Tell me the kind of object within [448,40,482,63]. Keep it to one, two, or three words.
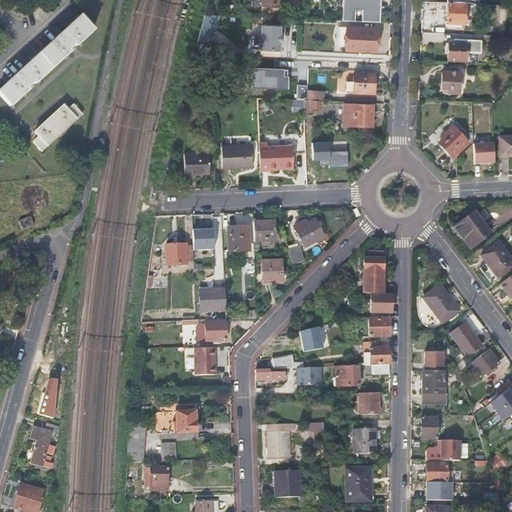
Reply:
house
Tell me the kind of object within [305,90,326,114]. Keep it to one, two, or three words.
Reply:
building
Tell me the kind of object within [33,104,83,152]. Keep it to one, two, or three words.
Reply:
building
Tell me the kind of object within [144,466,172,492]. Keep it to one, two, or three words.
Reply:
house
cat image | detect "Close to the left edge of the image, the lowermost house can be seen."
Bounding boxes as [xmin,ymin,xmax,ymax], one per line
[14,480,47,512]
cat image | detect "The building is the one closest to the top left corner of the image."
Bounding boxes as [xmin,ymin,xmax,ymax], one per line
[0,12,98,109]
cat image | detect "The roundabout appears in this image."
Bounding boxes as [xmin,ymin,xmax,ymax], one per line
[352,146,450,241]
